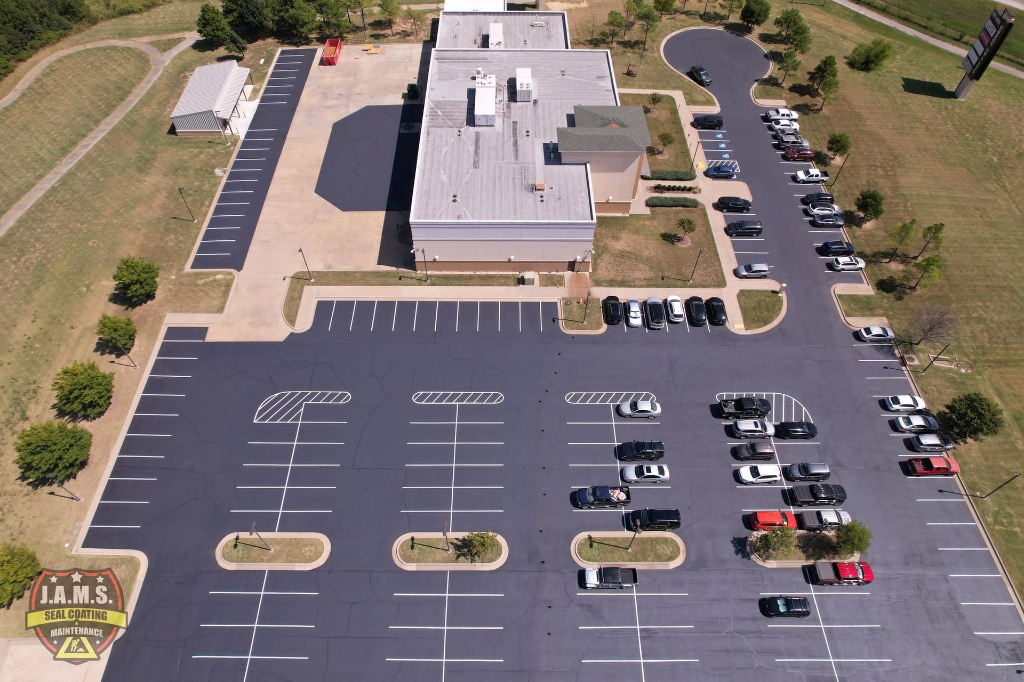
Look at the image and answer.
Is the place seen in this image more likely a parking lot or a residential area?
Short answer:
parking lot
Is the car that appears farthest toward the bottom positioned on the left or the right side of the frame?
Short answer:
right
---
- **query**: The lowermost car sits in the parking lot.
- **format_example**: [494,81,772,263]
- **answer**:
[759,594,811,619]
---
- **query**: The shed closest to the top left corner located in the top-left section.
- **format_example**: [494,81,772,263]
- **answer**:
[172,58,254,135]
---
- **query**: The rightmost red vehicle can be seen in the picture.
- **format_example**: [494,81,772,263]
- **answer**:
[904,456,958,477]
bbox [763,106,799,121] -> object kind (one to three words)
vehicle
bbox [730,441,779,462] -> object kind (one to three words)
car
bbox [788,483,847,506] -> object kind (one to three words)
truck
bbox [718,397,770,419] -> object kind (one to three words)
truck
